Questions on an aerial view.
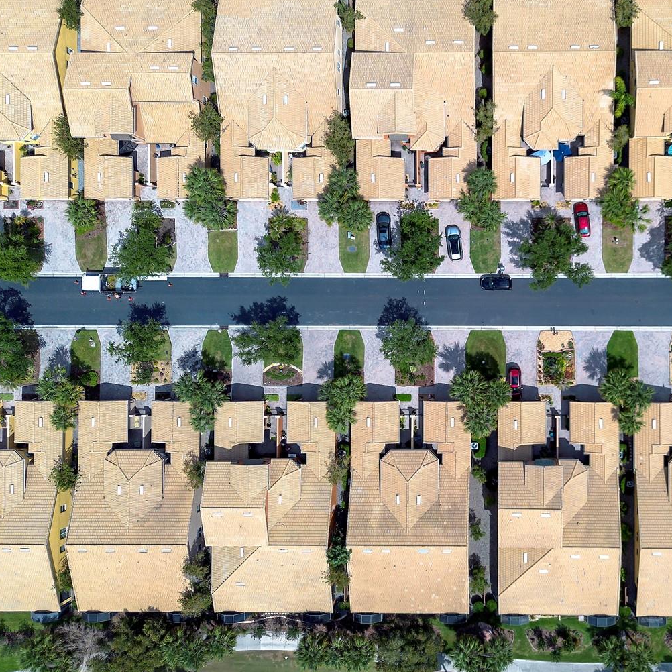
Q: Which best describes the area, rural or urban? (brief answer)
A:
urban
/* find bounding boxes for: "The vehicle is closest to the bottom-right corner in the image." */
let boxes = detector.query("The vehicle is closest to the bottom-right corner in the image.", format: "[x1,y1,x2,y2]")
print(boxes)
[507,365,523,398]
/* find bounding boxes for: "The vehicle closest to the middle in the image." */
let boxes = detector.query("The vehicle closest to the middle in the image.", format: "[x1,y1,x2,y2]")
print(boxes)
[374,213,391,247]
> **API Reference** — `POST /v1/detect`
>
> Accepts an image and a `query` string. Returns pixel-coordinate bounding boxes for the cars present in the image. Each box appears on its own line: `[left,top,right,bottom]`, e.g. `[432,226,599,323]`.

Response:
[374,213,391,247]
[445,224,462,260]
[507,365,523,398]
[480,274,513,290]
[572,202,589,236]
